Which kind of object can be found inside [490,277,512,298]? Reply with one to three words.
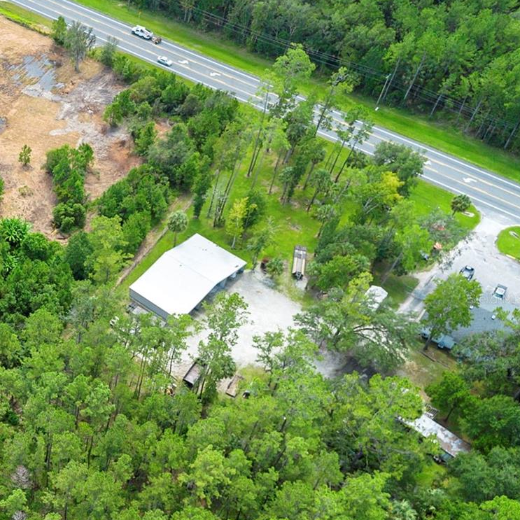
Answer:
vehicle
